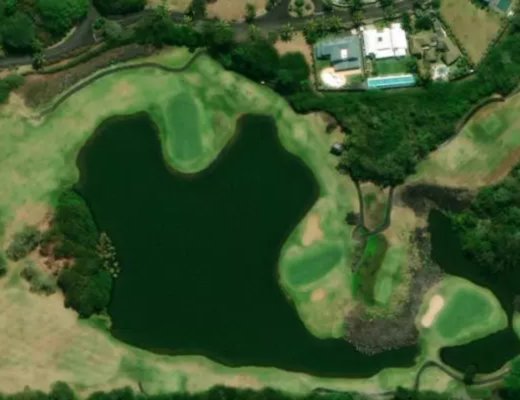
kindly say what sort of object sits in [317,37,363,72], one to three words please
house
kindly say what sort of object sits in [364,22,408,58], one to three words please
house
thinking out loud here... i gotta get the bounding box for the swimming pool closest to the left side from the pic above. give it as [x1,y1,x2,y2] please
[368,74,416,90]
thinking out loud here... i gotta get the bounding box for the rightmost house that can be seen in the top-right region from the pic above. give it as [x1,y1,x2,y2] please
[411,31,463,64]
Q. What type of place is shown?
golf course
